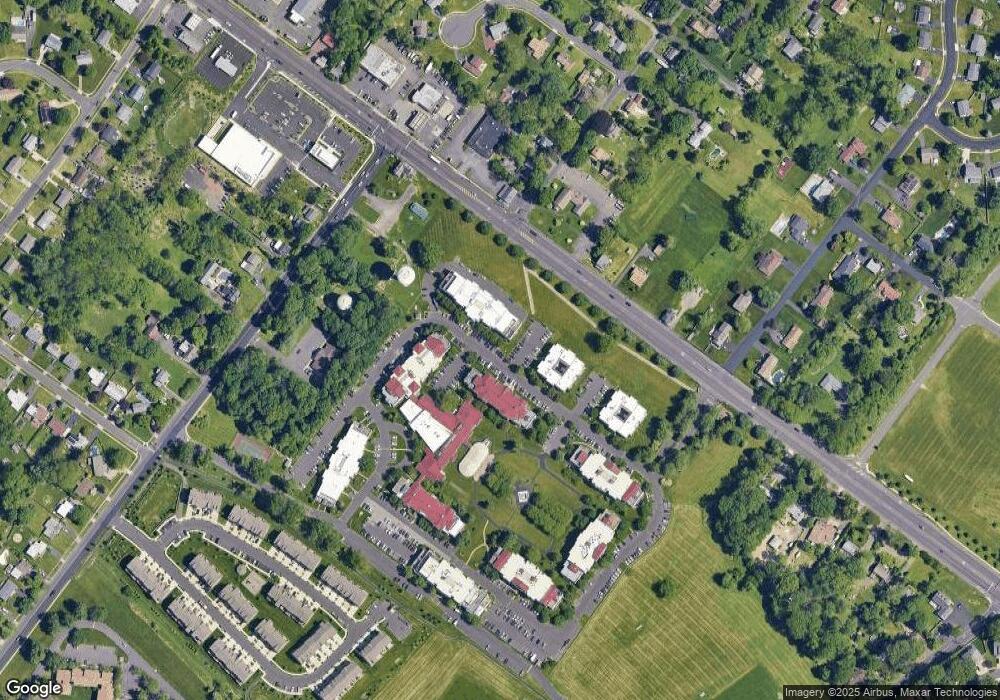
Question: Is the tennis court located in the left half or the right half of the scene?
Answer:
left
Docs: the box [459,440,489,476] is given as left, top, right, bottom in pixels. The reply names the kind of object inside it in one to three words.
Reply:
building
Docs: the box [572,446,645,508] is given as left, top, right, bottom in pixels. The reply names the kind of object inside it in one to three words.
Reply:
building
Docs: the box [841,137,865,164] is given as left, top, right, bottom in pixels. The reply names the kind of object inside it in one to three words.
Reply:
house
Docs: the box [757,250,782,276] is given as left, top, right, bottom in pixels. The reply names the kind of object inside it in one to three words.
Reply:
house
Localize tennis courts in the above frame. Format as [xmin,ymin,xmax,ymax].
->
[231,432,271,463]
